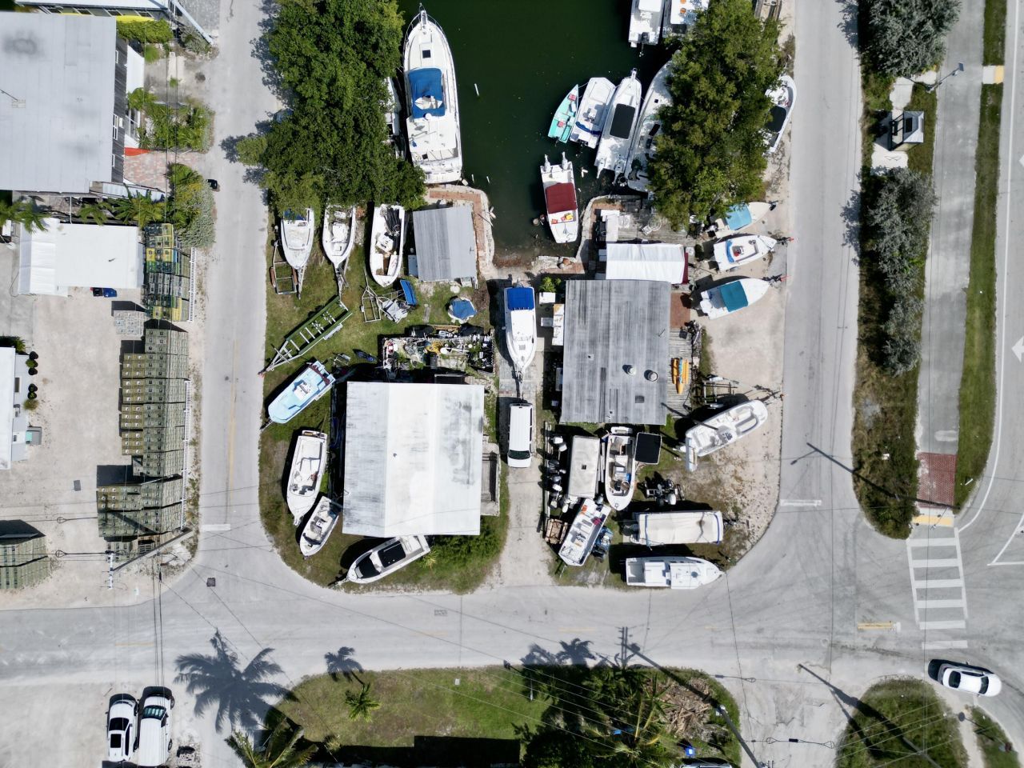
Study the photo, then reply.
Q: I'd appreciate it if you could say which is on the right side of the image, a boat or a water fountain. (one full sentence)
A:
The feature located on the right side of the image is a boat.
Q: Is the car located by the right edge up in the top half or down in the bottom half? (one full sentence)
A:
The bottom half of the photo is where the car located by the right edge is.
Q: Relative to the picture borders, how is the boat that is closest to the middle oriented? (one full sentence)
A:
Seen from above, the boat that is closest to the middle lies from top to bottom.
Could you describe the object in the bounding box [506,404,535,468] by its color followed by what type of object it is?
white van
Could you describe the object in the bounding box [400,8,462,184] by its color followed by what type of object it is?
white boat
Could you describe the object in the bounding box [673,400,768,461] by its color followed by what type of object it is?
white boat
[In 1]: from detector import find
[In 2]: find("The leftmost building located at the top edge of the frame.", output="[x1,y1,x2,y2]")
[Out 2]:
[0,0,127,193]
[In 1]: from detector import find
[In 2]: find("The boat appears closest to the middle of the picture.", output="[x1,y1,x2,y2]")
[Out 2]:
[503,276,539,372]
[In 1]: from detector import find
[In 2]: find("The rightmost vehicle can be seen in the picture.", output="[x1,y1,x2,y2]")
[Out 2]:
[940,664,1005,701]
